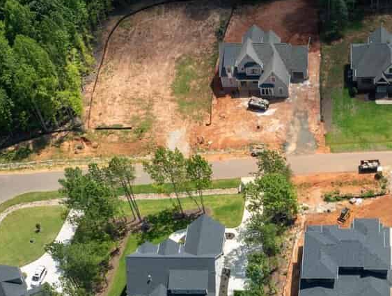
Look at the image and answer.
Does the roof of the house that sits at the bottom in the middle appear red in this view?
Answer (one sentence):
No, the roof of the house that sits at the bottom in the middle is gray.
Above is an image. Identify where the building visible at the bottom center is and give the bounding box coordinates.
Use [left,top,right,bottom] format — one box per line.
[123,215,228,296]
